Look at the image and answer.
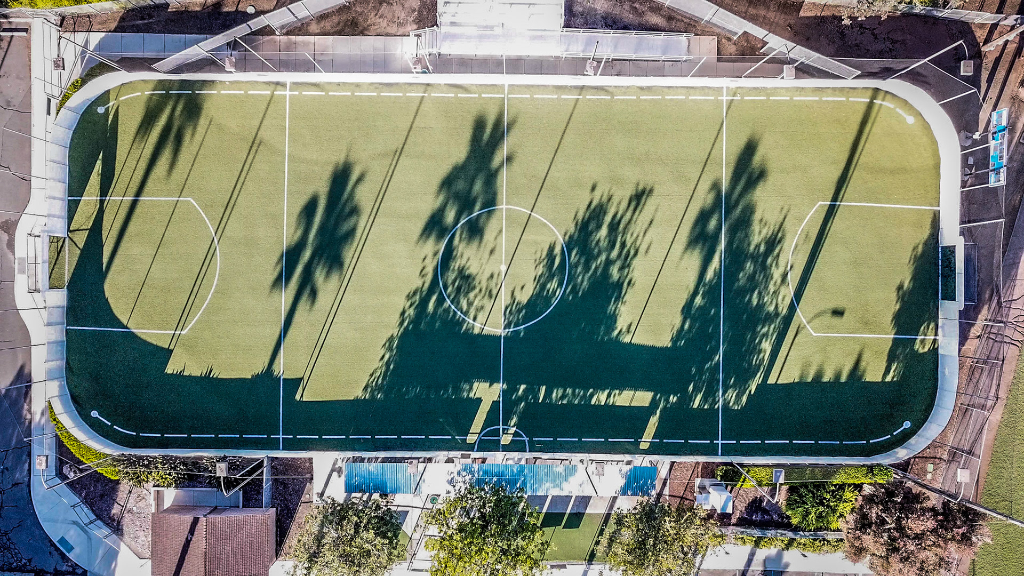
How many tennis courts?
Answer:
0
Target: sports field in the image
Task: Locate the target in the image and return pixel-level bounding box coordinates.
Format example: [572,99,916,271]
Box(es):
[50,80,957,457]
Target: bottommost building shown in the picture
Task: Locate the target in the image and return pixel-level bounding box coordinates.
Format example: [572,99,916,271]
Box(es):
[151,504,278,576]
